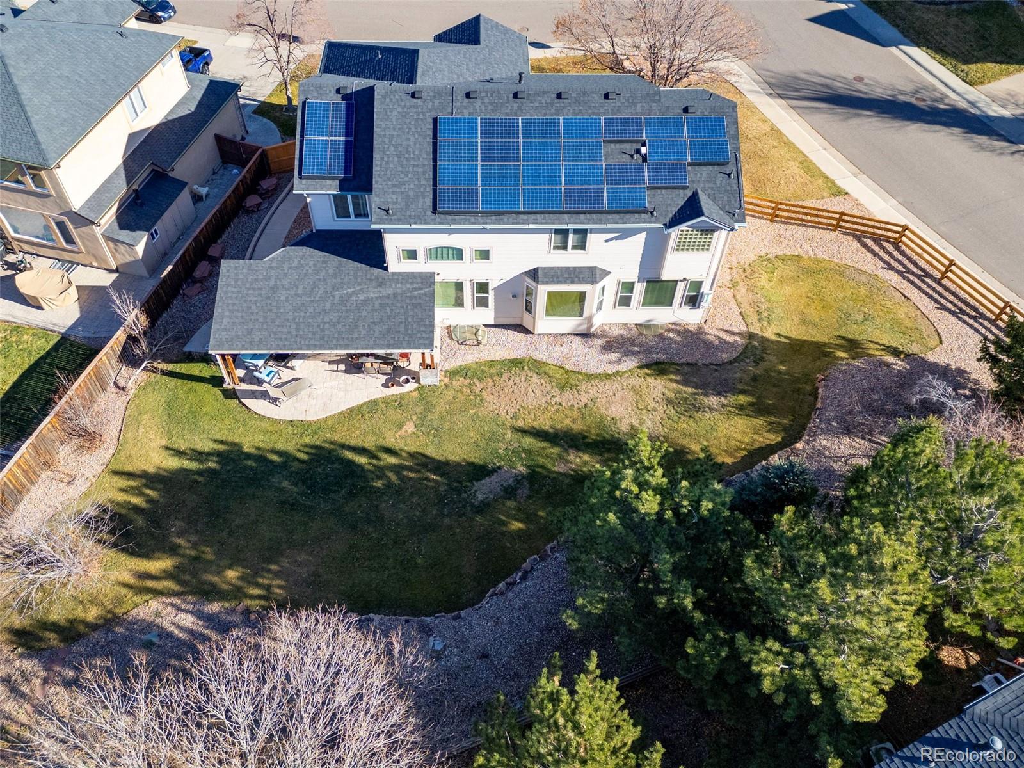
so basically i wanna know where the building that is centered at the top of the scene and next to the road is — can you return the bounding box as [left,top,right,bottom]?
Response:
[208,11,748,393]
